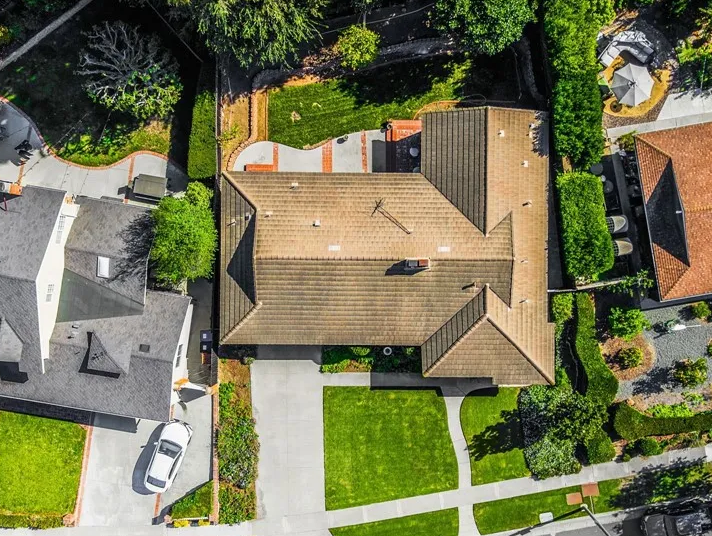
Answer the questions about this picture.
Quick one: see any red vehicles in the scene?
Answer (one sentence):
No, no red vehicle can be seen from above.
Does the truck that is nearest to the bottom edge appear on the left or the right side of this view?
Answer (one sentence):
The truck that is nearest to the bottom edge appears in the right half of the scene.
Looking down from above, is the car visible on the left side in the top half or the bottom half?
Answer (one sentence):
You can find the car visible on the left side in the bottom half.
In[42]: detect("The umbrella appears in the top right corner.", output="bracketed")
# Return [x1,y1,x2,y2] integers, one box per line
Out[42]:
[609,66,650,108]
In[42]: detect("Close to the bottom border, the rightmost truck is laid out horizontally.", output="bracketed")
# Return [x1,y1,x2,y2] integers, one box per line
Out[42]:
[639,496,712,536]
